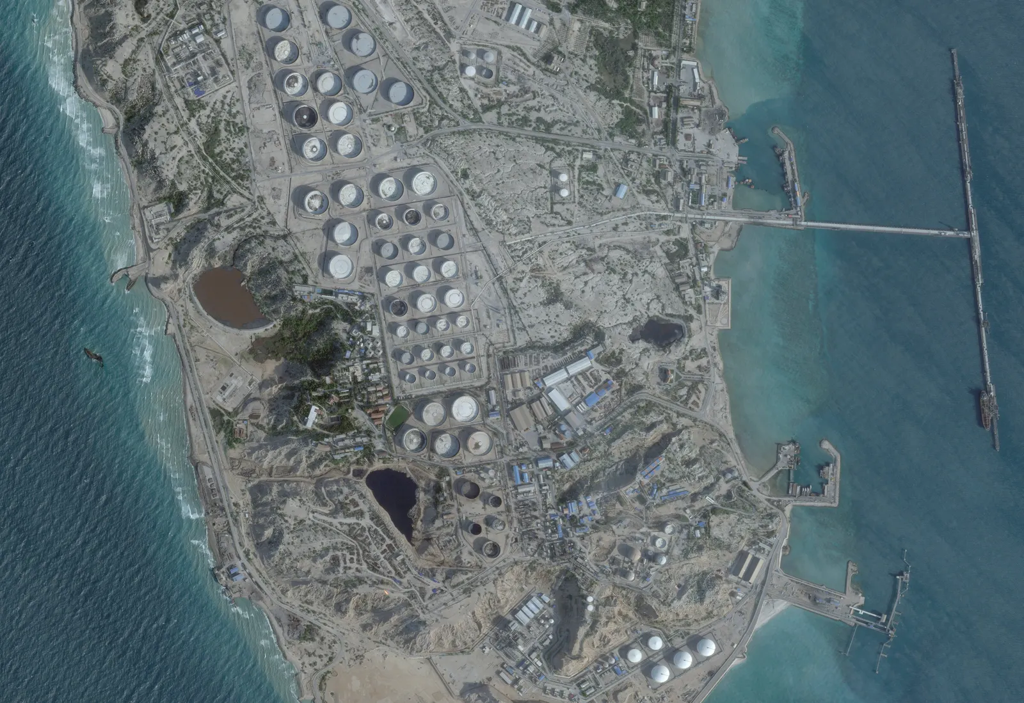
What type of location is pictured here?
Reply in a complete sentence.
It's a port.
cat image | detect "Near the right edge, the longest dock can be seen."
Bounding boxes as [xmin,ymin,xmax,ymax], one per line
[952,49,1000,450]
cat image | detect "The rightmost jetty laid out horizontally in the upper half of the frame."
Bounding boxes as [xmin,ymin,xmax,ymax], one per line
[802,220,972,238]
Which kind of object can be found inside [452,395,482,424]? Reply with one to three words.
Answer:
storage tank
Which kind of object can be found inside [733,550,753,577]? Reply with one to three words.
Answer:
building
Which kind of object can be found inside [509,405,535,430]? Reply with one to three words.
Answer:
building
